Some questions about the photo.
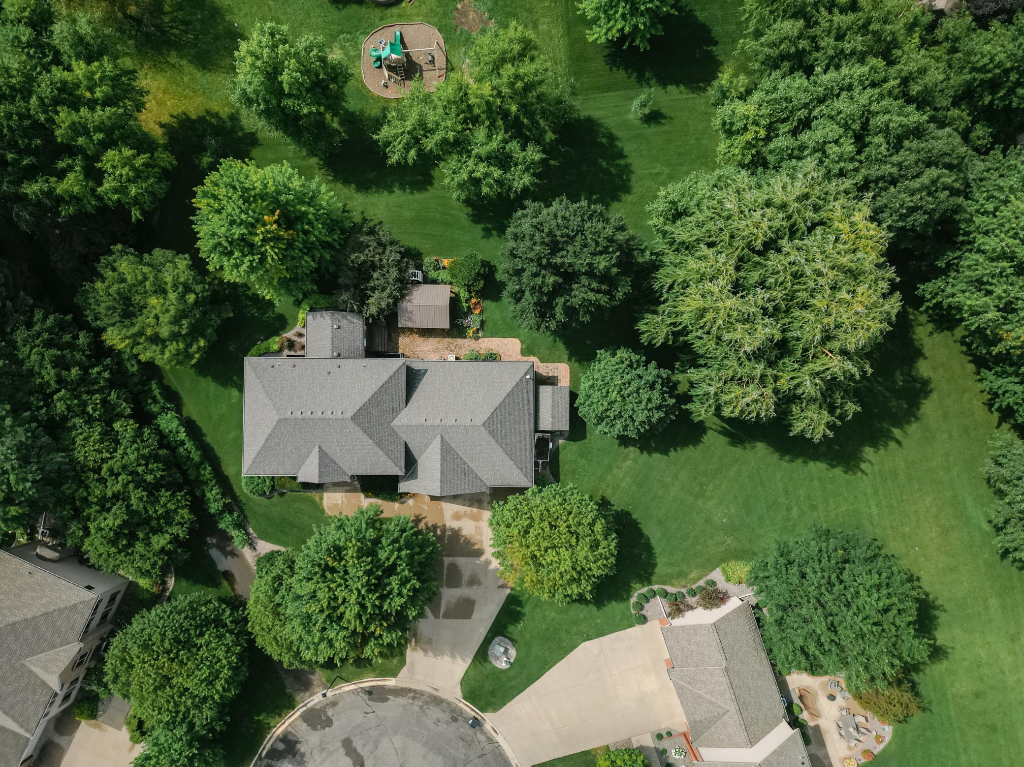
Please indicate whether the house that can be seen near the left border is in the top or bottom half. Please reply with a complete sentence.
Seen from above, the house that can be seen near the left border lies in the bottom half of the view.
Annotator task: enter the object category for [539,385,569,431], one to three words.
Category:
shed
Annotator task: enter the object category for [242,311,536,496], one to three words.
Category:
house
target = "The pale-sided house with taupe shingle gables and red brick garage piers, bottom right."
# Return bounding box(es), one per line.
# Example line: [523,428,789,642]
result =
[648,593,810,767]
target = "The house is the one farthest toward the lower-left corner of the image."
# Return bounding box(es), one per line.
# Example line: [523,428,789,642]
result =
[0,525,125,767]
